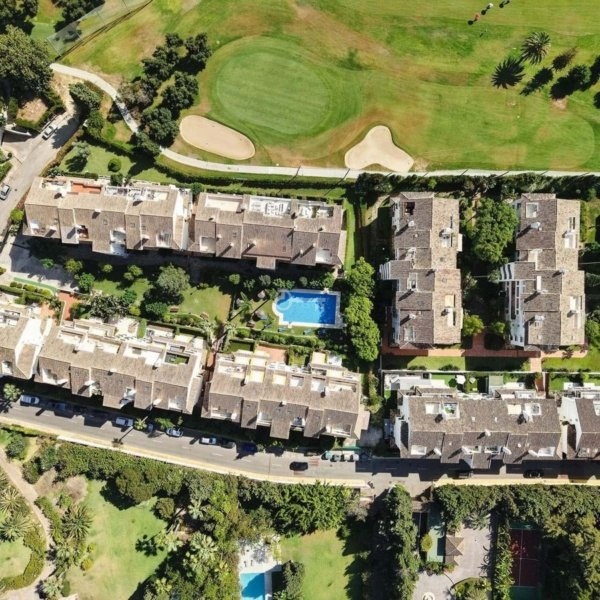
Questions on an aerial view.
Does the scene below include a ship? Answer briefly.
No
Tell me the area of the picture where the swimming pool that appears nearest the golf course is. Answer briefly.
center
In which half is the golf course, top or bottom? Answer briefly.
top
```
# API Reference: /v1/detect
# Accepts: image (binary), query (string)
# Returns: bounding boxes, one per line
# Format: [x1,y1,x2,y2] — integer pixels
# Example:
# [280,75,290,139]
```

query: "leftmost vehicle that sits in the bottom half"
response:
[18,394,40,406]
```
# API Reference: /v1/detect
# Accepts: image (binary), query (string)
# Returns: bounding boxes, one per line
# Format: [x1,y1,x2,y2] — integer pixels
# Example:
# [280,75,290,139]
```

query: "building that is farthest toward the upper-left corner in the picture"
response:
[23,177,194,259]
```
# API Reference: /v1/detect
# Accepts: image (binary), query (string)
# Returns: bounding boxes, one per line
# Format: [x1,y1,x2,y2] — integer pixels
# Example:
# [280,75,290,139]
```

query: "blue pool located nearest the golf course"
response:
[274,291,338,329]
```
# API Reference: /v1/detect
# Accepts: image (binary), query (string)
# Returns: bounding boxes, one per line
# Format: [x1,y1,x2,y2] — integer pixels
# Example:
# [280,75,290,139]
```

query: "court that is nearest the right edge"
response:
[506,520,547,600]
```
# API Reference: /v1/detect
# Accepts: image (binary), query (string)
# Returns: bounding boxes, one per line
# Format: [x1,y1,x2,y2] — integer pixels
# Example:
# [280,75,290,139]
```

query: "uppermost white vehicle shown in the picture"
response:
[40,120,59,139]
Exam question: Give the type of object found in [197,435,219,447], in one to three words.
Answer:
vehicle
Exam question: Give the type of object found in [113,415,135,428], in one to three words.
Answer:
vehicle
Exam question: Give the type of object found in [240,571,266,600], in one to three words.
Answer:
swimming pool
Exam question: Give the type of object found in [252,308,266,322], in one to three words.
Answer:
umbrella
